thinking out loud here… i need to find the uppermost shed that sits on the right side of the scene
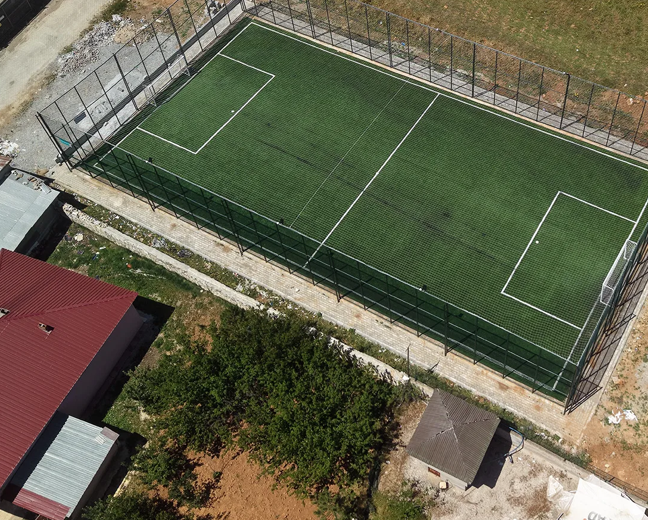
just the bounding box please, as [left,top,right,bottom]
[406,390,500,493]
